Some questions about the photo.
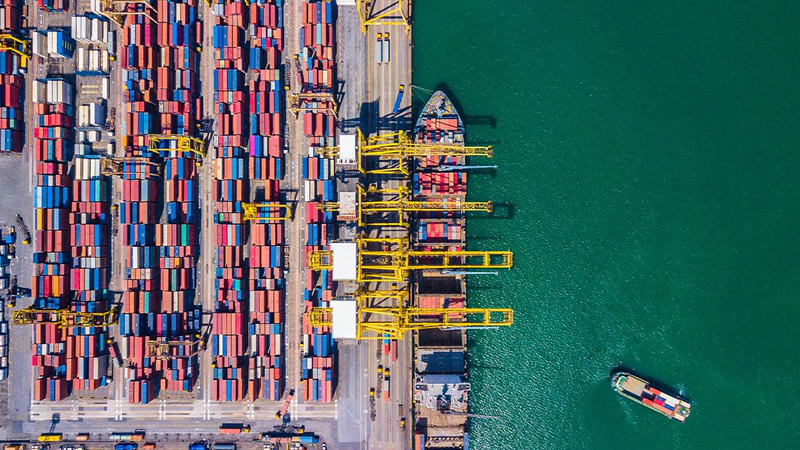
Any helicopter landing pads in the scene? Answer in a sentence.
No, the frame has no helicopter landing pad in it.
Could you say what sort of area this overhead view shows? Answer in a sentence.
This looks like a port.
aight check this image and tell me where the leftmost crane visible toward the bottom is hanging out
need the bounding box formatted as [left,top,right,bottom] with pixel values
[10,302,71,328]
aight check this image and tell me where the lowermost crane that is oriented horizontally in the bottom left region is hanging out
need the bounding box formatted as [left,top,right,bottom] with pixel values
[149,333,205,359]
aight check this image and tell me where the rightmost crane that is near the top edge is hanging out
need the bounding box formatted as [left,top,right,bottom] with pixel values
[337,0,409,37]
